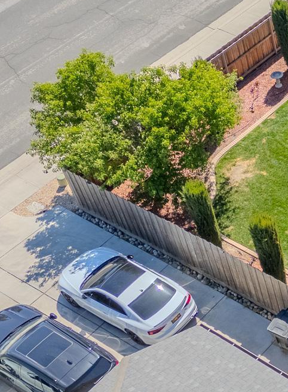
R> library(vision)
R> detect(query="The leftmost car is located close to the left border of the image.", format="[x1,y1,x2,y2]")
[0,308,111,392]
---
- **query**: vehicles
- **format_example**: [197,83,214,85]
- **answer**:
[51,245,190,345]
[0,308,111,392]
